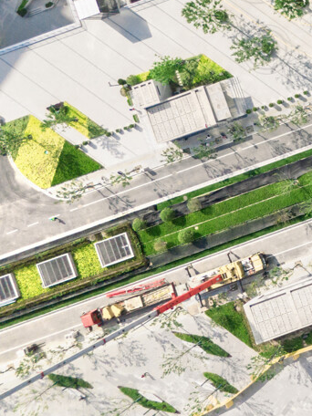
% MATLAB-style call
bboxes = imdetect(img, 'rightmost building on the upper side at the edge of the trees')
[132,58,255,142]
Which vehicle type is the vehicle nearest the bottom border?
truck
